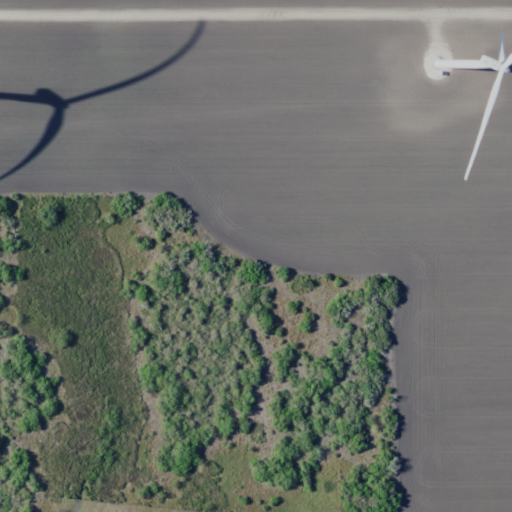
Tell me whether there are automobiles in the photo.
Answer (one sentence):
No, there is no automobile in the image.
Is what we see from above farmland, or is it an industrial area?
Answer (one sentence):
It's farmland.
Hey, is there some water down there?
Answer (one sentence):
No, the scene doesn't show any water.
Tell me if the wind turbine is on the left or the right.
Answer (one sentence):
The wind turbine sits on the right side.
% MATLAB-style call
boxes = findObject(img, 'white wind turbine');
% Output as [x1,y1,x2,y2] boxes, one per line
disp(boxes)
[432,33,512,183]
